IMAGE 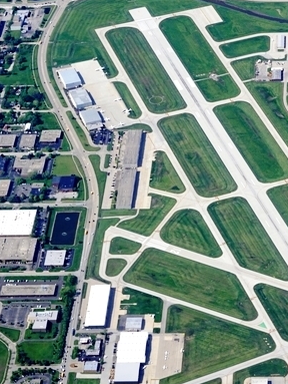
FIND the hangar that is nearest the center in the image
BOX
[117,169,137,211]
